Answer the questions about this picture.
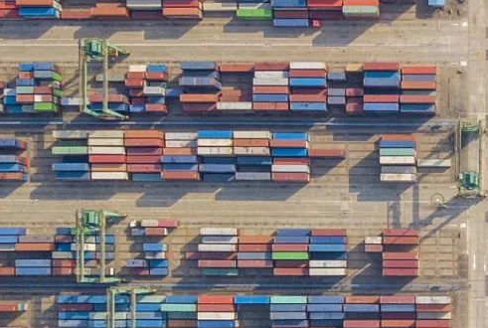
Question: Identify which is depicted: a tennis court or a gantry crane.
gantry crane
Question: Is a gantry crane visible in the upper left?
Yes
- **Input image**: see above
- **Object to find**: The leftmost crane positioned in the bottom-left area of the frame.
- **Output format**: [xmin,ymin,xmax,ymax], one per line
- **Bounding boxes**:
[75,205,129,284]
